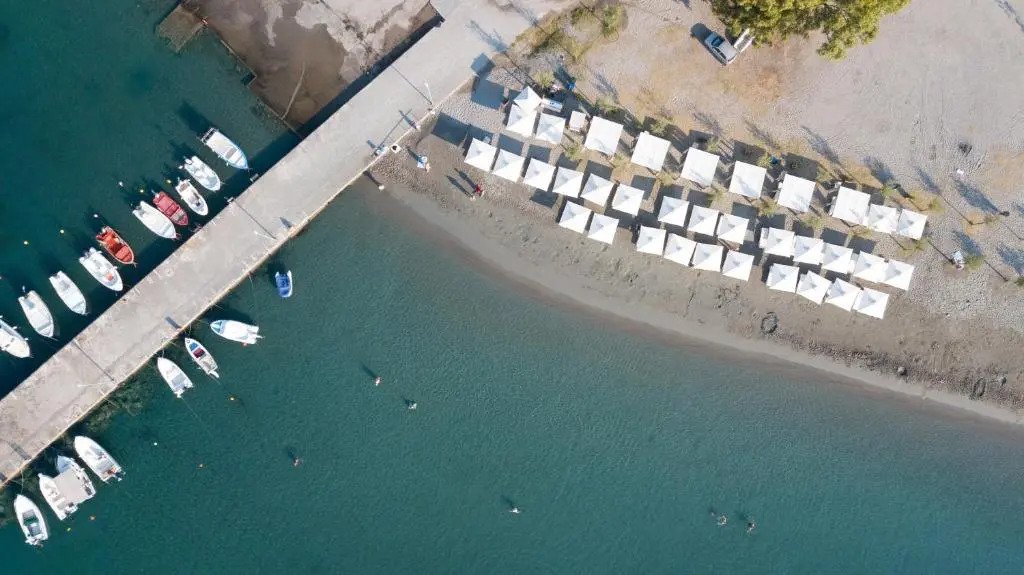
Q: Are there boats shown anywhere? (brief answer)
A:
Yes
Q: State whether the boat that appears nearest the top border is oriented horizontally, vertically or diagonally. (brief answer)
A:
diagonally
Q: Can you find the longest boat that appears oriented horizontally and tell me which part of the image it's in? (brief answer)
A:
left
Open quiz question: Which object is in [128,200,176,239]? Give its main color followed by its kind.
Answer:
white boat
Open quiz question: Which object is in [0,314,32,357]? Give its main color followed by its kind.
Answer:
white boat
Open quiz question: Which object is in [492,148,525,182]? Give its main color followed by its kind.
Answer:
white umbrella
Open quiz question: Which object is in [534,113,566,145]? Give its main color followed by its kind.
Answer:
white umbrella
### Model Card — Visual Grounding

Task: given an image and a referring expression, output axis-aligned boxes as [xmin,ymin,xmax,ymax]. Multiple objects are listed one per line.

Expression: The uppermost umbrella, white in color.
[512,85,542,111]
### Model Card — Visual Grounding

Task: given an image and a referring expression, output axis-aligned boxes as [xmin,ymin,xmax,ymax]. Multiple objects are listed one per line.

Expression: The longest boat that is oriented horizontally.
[209,319,263,345]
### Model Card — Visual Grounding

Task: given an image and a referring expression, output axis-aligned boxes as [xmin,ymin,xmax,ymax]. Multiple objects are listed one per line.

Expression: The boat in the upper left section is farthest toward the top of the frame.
[194,124,248,169]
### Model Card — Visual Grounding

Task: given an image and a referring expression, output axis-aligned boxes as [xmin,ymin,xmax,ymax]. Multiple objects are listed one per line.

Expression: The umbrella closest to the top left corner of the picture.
[464,138,498,172]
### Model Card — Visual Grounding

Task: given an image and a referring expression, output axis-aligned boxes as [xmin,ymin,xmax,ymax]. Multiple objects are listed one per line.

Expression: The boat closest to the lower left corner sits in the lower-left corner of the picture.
[13,497,47,550]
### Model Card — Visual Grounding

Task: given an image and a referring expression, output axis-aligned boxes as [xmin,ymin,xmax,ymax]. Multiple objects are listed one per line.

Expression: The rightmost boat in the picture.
[275,270,293,297]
